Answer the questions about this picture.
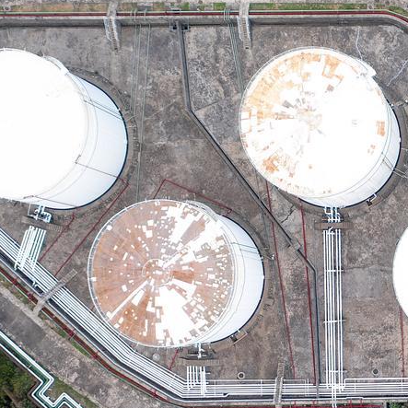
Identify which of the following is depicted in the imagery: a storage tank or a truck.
storage tank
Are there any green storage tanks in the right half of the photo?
No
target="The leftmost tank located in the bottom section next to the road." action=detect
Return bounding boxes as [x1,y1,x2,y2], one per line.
[82,194,271,353]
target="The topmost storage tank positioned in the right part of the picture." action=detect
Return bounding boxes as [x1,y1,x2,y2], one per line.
[235,42,406,216]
